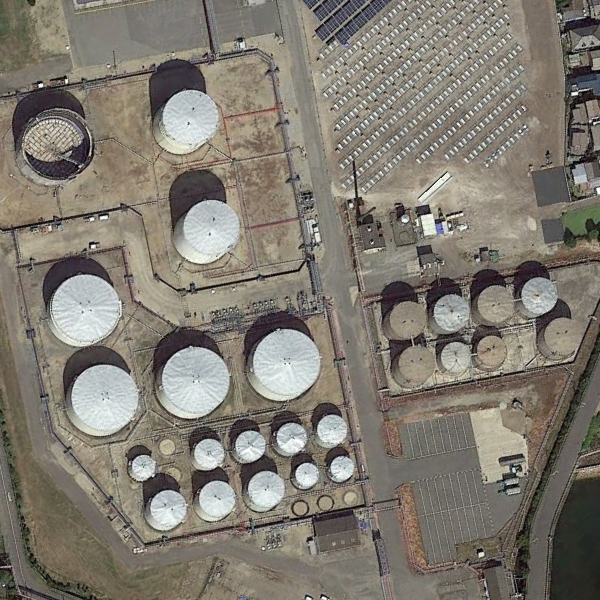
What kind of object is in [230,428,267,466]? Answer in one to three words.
storage tank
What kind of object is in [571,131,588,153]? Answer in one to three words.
house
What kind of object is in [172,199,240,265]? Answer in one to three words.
storage tank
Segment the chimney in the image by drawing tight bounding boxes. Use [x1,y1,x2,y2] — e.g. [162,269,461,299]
[357,207,377,223]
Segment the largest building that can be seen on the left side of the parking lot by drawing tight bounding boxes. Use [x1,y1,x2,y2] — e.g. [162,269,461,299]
[314,514,361,555]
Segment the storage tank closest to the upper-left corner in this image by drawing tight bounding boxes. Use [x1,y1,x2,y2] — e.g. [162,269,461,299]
[13,106,95,188]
